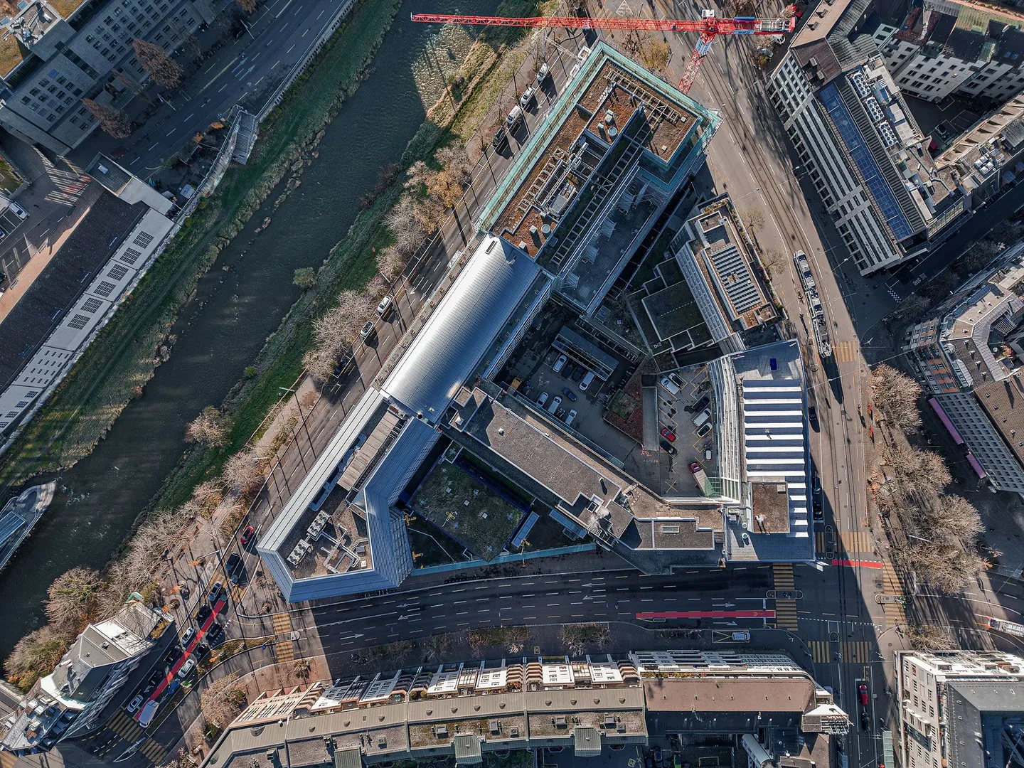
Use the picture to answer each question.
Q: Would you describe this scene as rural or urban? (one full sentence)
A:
The area is urban.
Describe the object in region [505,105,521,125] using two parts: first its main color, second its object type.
white vehicle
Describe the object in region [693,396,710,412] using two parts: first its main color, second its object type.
black car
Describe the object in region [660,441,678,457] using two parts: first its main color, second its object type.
black car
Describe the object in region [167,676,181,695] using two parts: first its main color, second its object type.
blue car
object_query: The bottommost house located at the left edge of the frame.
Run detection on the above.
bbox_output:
[1,584,190,752]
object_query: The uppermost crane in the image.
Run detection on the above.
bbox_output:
[410,6,796,94]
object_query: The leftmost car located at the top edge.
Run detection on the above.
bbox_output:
[231,25,247,41]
